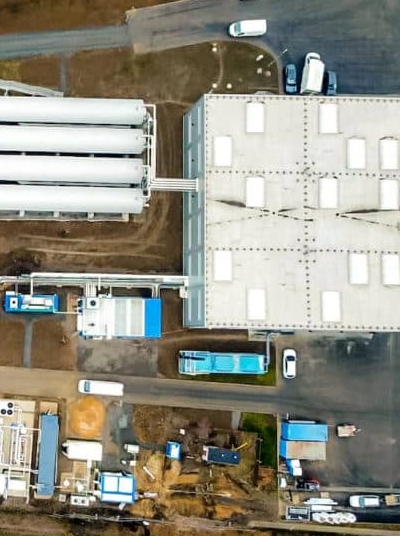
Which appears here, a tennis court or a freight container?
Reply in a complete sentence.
I can see a freight container in this picture.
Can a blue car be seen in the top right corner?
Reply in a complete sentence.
Yes, a blue car appears in the top right corner.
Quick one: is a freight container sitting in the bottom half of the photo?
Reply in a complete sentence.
Yes, a freight container can be seen in the bottom half of the photo.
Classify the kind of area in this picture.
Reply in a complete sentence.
What you see here is an industrial area.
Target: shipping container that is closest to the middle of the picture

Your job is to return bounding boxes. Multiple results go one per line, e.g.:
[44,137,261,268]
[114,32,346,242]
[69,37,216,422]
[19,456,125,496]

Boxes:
[179,350,267,376]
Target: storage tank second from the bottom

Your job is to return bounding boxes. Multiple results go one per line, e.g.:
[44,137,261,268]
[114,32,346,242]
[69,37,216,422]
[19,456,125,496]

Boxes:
[0,156,145,185]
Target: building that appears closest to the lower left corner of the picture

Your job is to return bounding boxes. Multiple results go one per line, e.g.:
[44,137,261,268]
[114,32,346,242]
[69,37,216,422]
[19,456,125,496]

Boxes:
[55,460,100,497]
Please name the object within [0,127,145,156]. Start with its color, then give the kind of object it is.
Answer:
white storage tank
